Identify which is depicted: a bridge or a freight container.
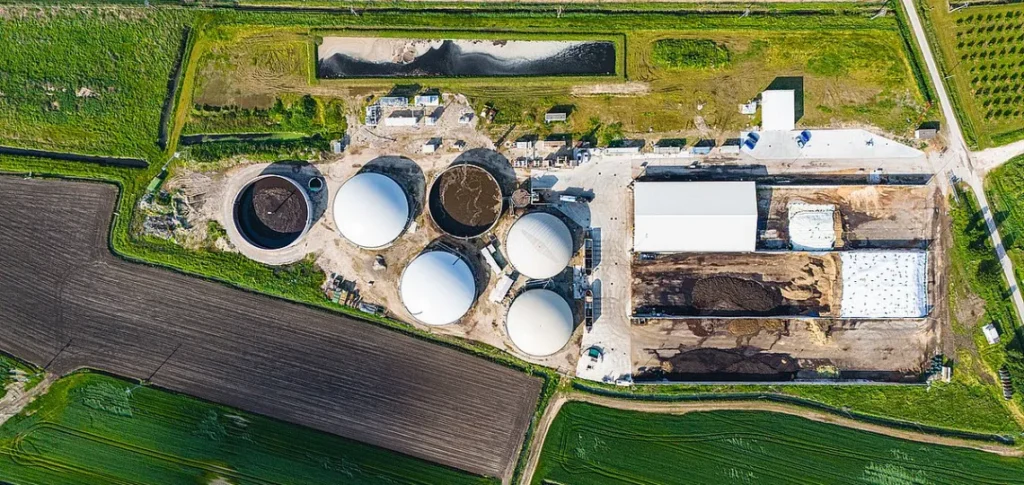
freight container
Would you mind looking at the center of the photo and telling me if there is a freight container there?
Yes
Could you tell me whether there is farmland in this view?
Yes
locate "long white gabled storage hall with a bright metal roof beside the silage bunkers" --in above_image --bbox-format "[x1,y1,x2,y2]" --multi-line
[632,178,759,253]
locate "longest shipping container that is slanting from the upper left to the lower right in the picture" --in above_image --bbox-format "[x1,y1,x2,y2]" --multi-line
[479,246,504,276]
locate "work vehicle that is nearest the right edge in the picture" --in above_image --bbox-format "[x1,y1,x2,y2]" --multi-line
[794,135,808,150]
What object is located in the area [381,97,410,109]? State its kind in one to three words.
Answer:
building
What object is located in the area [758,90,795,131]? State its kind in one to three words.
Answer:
shed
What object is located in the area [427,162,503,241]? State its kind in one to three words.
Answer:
storage tank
